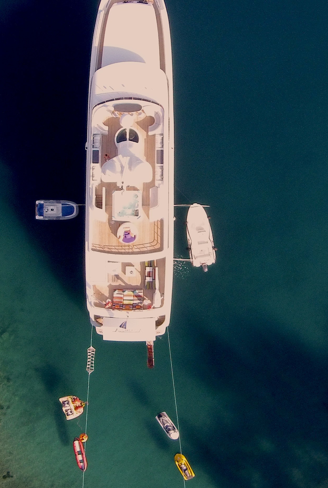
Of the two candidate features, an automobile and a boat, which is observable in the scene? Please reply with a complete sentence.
The image shows a boat.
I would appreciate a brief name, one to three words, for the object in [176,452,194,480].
boat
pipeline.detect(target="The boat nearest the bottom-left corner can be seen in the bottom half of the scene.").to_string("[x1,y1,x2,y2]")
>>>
[73,436,88,471]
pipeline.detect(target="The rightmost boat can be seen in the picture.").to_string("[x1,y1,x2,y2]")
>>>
[188,204,219,271]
